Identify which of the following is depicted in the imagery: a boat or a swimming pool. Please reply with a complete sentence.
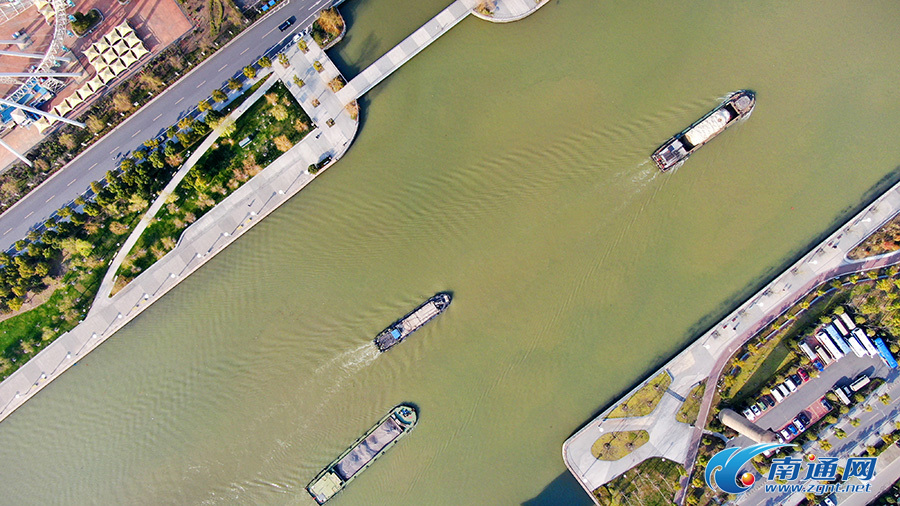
There is a boat in the scene.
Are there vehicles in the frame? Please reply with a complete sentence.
Yes, there is a vehicle in the image.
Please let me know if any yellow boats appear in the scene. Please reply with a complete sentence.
No, the frame has no yellow boat in it.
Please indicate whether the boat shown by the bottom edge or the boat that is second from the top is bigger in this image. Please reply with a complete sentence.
The boat that is second from the top is smaller than the boat shown by the bottom edge.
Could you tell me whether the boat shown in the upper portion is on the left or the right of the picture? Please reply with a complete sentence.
It is on the right.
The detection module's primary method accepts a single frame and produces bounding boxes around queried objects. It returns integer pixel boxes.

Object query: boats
[307,403,419,505]
[651,90,757,171]
[374,293,453,352]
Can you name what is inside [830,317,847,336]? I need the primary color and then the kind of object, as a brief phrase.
white vehicle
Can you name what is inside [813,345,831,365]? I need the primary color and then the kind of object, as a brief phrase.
white vehicle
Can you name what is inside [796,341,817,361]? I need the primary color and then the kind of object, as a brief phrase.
white bus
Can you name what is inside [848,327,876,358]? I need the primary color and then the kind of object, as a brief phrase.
white bus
